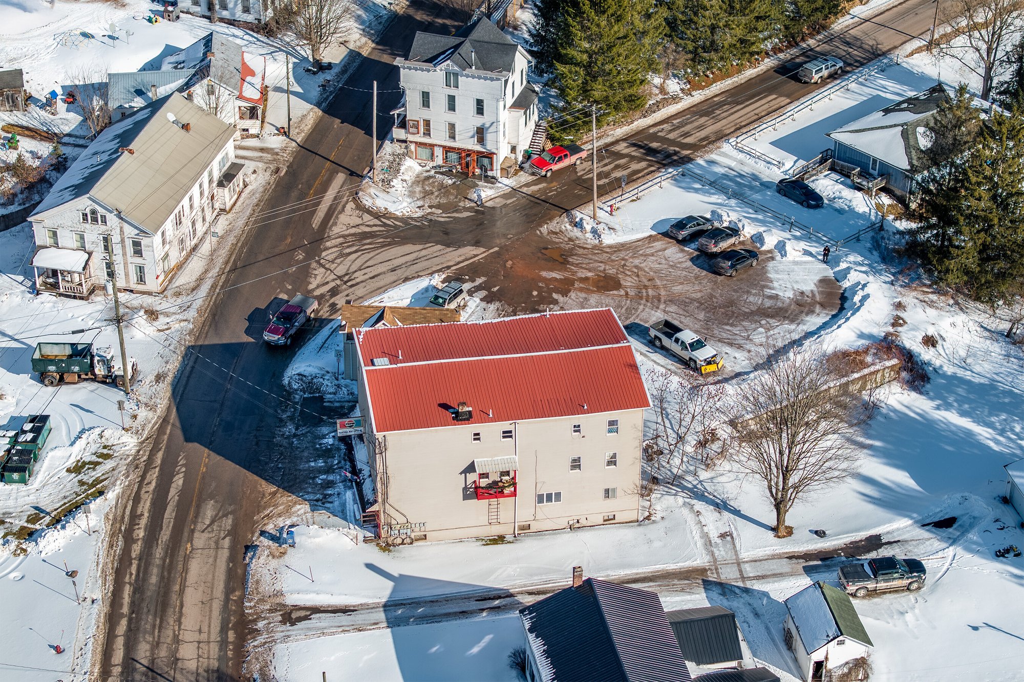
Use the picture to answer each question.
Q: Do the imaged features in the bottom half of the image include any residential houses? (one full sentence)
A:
Yes, in the bottom half of the image there is a residential house.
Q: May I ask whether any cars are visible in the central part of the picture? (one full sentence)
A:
Yes, the scene does show a car in the central part of the picture.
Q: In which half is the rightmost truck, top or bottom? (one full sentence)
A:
The rightmost truck sits in the bottom half of the picture.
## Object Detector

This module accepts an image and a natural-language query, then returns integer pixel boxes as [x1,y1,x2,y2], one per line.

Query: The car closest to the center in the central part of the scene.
[421,280,472,316]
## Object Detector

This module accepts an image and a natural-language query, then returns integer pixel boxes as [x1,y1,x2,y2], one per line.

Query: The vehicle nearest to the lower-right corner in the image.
[837,557,928,598]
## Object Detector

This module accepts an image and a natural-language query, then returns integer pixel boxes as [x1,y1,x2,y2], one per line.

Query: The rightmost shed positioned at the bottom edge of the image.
[785,582,875,682]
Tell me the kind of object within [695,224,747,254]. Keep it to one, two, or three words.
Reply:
car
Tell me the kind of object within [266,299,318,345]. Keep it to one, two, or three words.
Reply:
truck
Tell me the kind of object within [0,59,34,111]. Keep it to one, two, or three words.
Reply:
barn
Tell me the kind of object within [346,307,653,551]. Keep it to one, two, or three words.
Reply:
building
